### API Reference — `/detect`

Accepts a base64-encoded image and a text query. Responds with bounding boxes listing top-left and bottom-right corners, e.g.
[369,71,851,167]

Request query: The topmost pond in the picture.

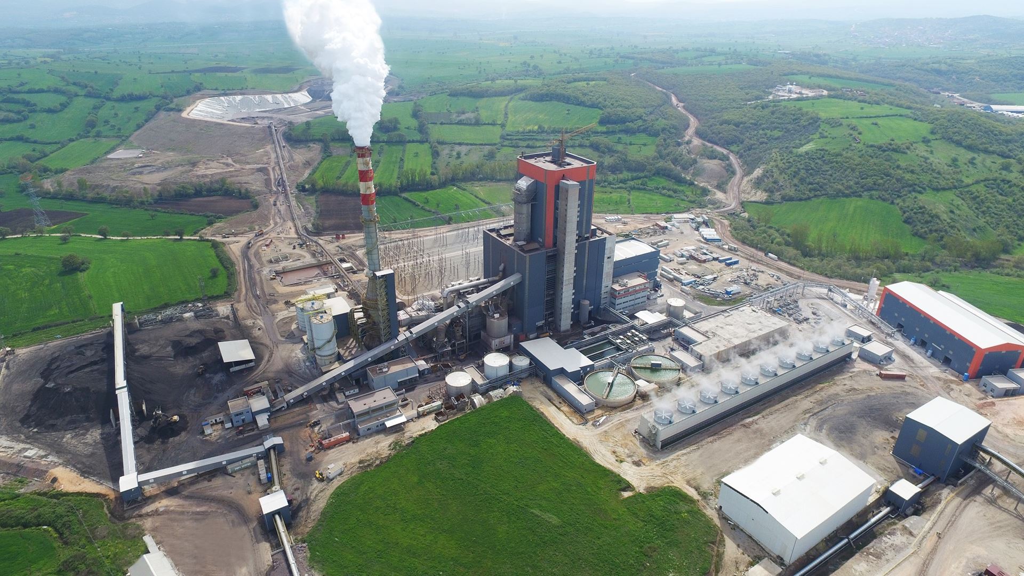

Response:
[190,89,311,118]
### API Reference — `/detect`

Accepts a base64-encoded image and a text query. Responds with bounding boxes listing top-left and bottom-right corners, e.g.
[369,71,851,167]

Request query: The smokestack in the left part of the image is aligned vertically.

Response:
[355,146,384,347]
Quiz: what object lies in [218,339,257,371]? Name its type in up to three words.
shed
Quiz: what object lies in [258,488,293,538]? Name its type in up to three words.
house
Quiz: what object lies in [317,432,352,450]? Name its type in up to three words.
vehicle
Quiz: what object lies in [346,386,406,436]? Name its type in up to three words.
building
